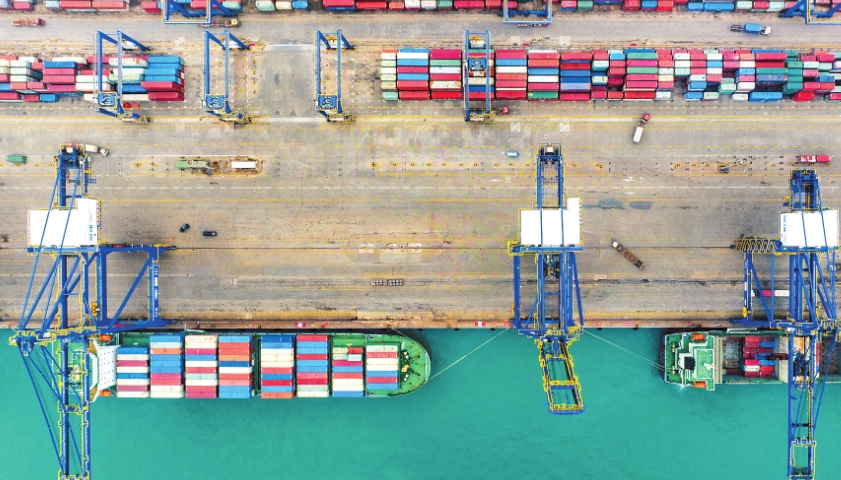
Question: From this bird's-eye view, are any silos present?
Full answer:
No, the photo shows no silo.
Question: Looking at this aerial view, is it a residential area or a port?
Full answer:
This image shows a port.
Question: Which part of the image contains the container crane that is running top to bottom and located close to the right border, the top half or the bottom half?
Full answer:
The container crane that is running top to bottom and located close to the right border sits in the bottom half of the picture.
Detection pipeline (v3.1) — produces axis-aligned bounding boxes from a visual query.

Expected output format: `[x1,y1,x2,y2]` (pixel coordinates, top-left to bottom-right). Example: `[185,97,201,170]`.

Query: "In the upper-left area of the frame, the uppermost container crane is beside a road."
[162,0,237,25]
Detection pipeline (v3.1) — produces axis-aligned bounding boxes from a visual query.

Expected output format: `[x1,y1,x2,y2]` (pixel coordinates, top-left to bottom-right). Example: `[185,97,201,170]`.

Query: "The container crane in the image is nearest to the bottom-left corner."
[8,145,173,480]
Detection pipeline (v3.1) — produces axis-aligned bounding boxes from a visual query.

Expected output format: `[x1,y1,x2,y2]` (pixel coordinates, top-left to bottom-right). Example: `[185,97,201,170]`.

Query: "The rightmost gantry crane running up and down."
[729,169,841,480]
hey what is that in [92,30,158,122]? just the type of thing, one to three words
container crane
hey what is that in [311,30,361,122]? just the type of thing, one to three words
container crane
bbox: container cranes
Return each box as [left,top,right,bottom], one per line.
[506,147,583,417]
[162,0,237,25]
[459,30,499,122]
[499,0,554,25]
[782,0,841,25]
[8,145,173,480]
[729,169,841,480]
[92,30,158,122]
[311,30,361,122]
[200,30,256,122]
